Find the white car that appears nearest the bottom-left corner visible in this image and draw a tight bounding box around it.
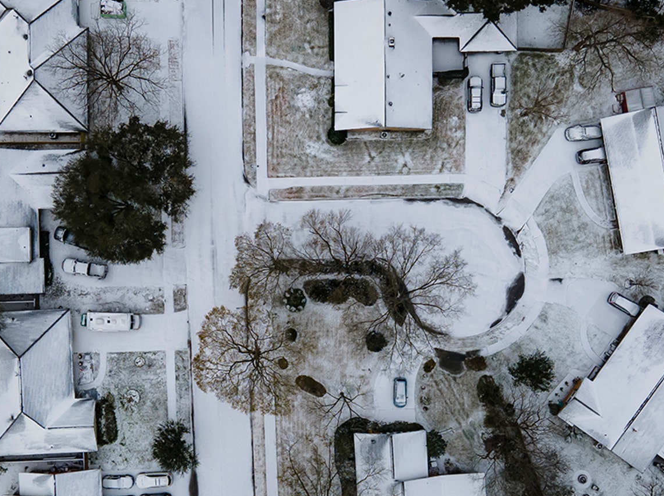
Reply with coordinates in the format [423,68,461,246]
[102,475,135,492]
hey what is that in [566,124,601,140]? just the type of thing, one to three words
car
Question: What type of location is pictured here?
residential area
